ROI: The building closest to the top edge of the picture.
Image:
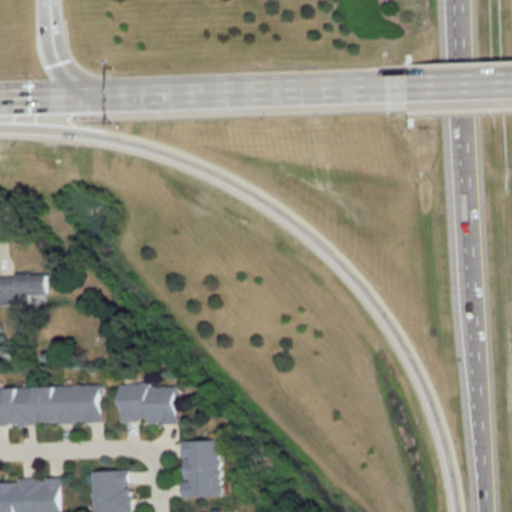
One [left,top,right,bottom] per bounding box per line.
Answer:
[0,276,48,304]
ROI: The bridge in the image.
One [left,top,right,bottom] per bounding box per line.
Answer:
[385,60,512,116]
